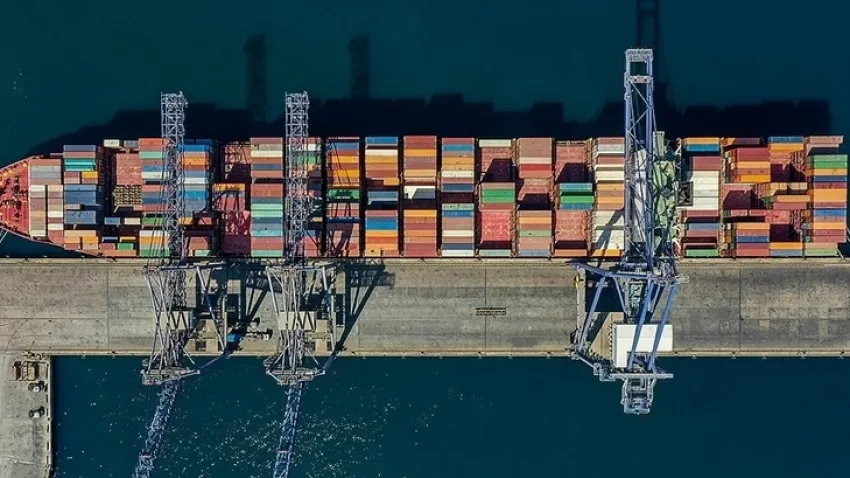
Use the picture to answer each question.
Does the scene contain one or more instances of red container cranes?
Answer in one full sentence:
No, no red container crane can be seen from above.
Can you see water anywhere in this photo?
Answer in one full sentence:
Yes, water can be seen from above here.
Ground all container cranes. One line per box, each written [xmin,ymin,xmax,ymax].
[554,44,689,417]
[265,89,347,478]
[129,89,240,478]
